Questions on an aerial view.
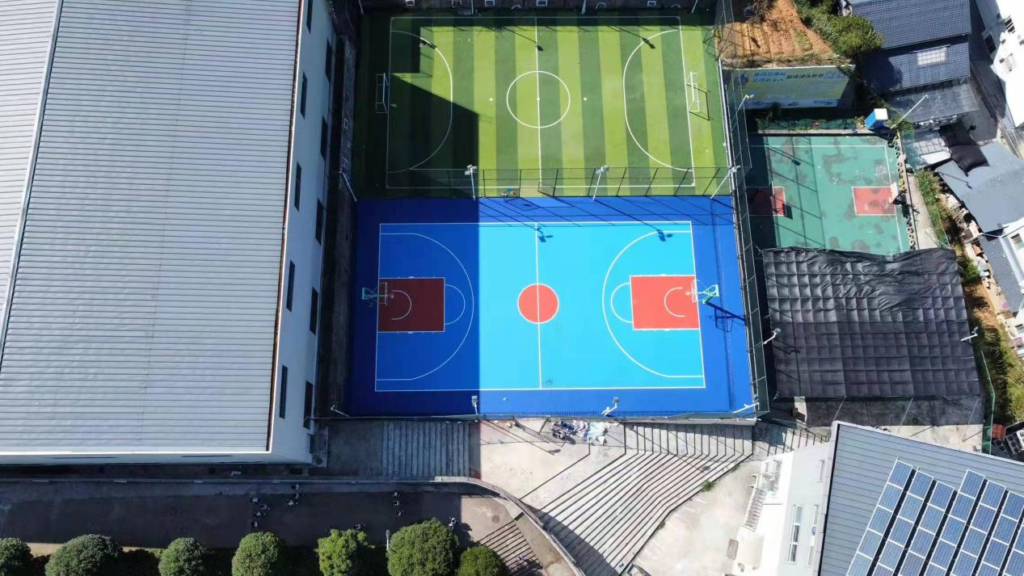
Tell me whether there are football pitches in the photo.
Yes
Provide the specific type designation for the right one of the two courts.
basketball court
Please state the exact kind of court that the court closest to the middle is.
basketball court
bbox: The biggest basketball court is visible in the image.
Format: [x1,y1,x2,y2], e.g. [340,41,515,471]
[348,195,751,416]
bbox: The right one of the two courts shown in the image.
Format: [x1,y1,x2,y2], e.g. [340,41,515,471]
[735,135,908,338]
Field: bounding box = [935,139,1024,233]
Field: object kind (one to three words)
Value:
shed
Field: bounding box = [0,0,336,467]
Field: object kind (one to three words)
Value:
building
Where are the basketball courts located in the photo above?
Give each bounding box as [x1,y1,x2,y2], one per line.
[735,135,908,338]
[348,195,751,416]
